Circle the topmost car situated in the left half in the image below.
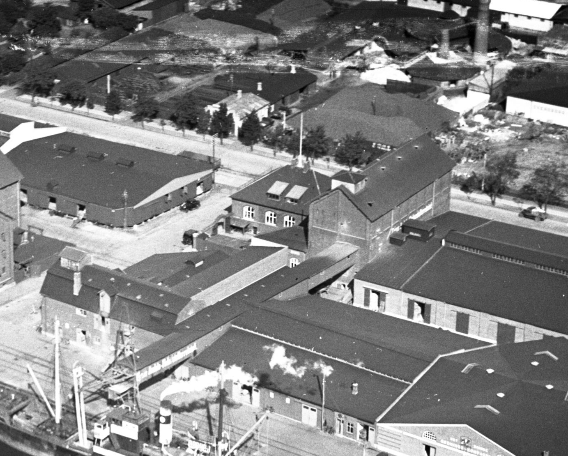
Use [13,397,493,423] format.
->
[185,200,198,214]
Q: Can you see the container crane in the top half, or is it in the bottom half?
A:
bottom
